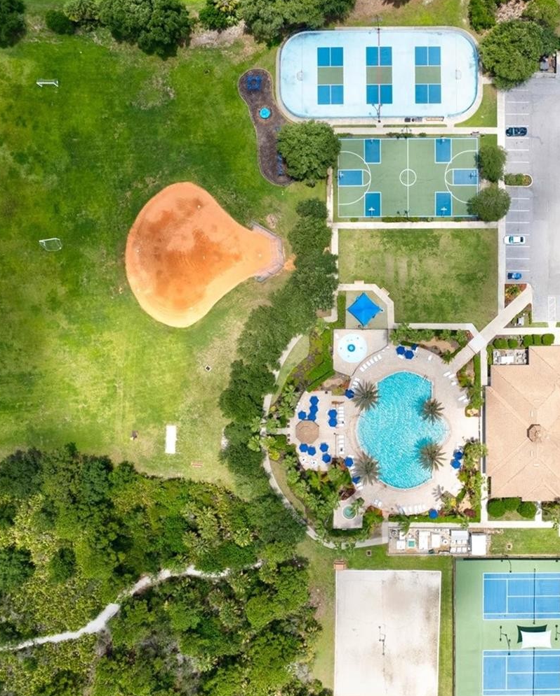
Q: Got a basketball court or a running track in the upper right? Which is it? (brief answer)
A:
basketball court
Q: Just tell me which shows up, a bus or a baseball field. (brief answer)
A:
baseball field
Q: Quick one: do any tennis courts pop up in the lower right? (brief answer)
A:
Yes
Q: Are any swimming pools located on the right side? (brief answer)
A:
Yes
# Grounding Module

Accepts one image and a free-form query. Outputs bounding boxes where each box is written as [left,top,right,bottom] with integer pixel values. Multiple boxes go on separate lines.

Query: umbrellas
[352,474,362,484]
[404,349,414,360]
[450,459,460,468]
[345,388,355,398]
[328,418,339,427]
[308,411,317,420]
[344,456,354,467]
[310,395,319,404]
[427,508,438,519]
[322,453,332,463]
[319,442,329,452]
[453,450,462,460]
[307,445,317,455]
[395,345,404,355]
[328,409,339,418]
[309,404,319,413]
[299,443,309,452]
[297,409,308,420]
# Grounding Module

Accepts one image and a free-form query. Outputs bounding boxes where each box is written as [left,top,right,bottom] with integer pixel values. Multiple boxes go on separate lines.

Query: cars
[506,127,527,136]
[507,272,522,279]
[504,235,525,244]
